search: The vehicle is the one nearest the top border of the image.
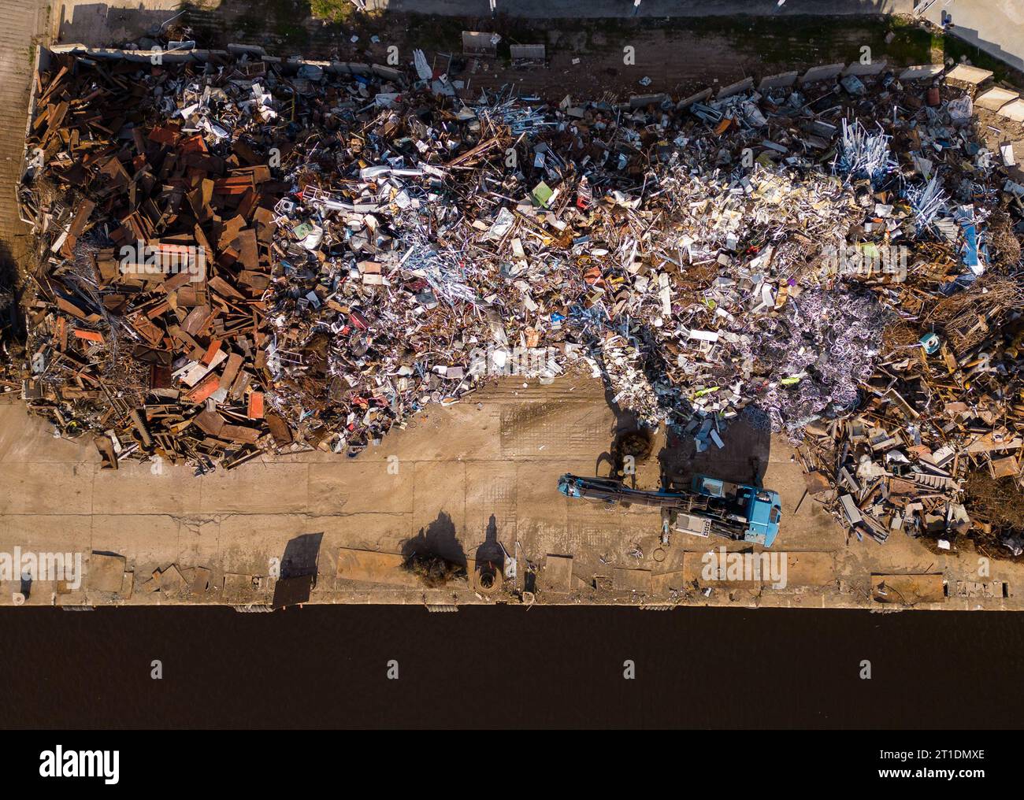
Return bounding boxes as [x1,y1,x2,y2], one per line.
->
[552,456,782,549]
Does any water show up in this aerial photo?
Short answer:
Yes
